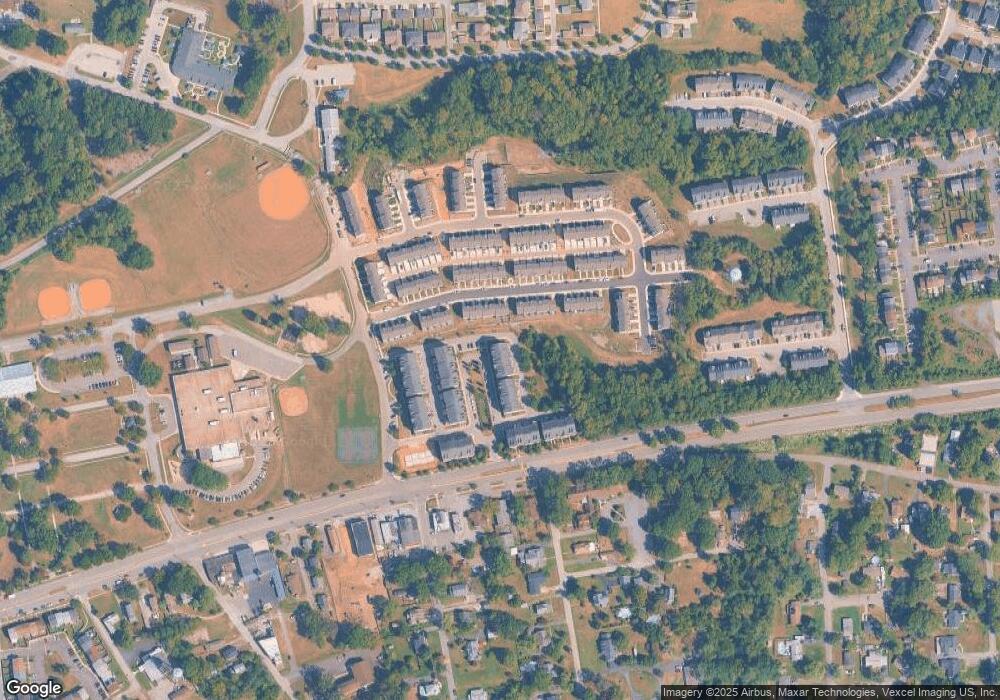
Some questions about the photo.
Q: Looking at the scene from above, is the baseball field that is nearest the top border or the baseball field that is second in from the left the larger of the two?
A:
the baseball field that is nearest the top border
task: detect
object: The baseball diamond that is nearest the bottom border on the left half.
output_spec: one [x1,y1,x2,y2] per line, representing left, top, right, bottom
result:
[279,387,309,416]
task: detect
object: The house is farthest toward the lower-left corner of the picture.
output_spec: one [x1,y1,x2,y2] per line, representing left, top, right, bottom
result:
[10,658,27,681]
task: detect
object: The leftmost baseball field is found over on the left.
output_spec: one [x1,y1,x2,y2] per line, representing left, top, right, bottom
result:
[39,286,71,319]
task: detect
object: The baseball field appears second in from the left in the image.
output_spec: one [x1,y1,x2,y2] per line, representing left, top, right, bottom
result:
[79,278,111,312]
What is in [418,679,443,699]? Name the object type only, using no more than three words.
house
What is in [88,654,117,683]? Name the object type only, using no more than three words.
house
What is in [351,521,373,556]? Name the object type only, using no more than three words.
building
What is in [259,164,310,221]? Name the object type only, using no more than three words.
baseball field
